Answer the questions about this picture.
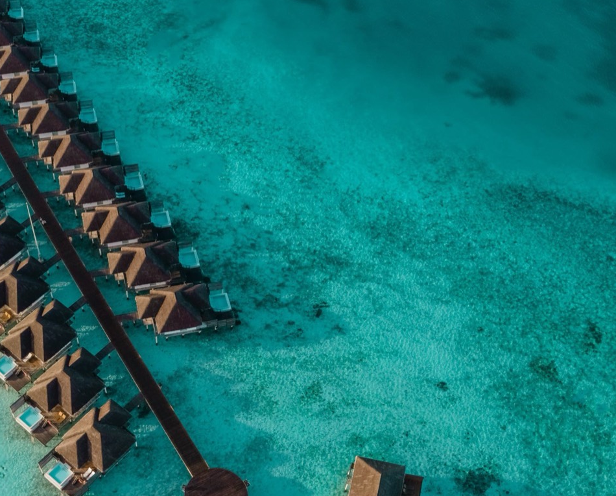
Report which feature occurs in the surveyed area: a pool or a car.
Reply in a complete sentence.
Of the two, only a pool appears.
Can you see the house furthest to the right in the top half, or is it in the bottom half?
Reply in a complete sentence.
It is in the bottom half that the house furthest to the right appears.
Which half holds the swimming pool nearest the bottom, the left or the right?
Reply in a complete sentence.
It is on the left.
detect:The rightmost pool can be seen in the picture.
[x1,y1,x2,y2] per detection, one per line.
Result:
[207,292,229,313]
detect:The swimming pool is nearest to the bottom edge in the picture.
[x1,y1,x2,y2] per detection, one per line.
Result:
[43,463,75,496]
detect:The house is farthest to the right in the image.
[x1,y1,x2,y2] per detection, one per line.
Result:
[346,456,421,496]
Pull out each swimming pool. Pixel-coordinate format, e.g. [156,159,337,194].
[15,406,47,436]
[77,111,94,126]
[123,174,142,192]
[148,210,168,229]
[43,463,75,496]
[0,353,19,381]
[37,55,55,69]
[98,141,118,157]
[207,292,229,313]
[57,81,74,96]
[176,250,197,270]
[21,30,37,44]
[5,8,21,20]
